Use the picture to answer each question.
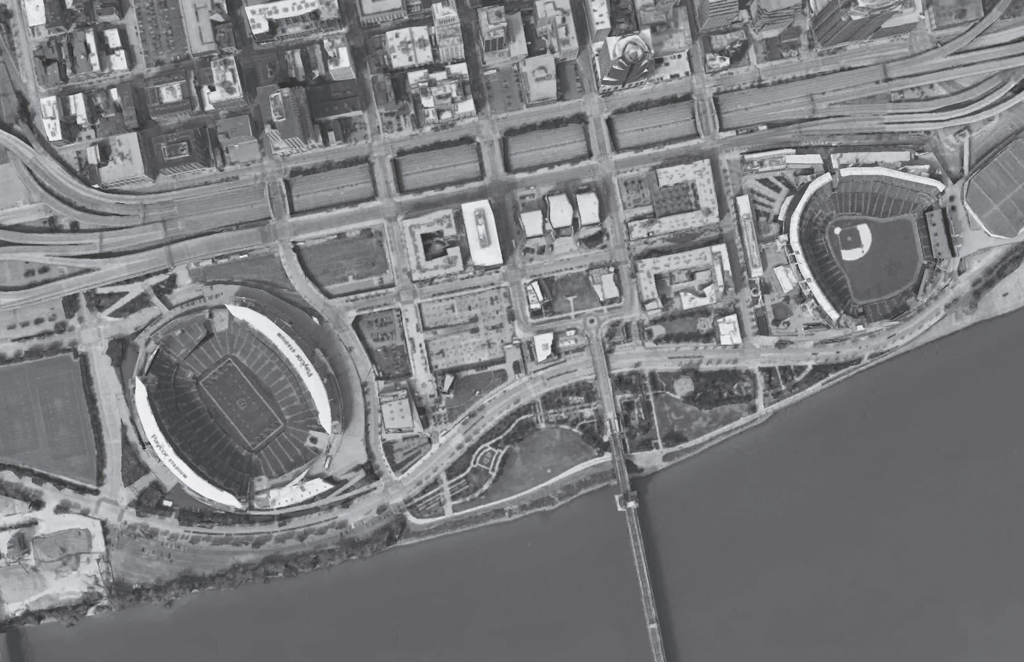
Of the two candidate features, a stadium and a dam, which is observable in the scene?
stadium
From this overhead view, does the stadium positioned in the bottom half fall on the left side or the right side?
left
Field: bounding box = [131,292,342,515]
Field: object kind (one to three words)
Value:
stadium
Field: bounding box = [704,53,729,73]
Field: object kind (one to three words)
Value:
building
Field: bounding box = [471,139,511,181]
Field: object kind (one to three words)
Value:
overpass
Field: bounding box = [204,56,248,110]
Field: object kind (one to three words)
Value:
building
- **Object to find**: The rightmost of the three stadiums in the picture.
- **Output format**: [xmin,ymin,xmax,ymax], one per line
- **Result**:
[956,131,1024,240]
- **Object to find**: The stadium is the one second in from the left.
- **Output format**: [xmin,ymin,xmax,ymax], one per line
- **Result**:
[782,167,956,320]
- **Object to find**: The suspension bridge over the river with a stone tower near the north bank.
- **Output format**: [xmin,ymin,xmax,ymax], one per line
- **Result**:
[587,330,666,662]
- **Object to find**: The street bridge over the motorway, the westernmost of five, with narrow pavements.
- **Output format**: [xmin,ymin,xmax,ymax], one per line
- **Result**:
[261,178,292,222]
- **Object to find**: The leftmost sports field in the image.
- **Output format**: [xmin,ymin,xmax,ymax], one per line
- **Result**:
[0,351,97,488]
